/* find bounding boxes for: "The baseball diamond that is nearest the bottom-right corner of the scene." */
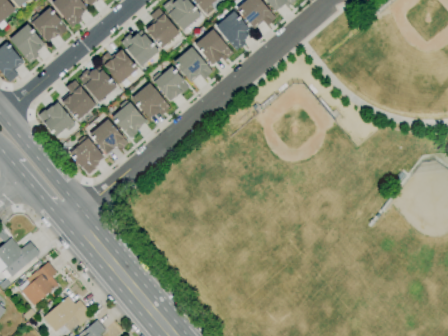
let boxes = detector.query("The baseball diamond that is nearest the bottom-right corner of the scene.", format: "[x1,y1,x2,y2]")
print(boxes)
[396,159,448,236]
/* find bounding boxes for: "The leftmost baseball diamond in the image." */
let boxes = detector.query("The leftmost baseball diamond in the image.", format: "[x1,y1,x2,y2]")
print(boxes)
[258,82,336,162]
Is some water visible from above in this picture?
No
